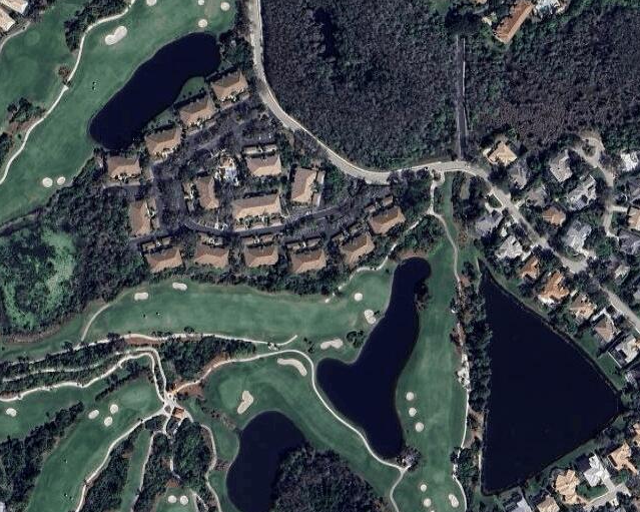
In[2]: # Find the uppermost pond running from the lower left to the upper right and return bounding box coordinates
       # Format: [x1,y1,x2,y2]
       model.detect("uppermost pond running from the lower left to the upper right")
[90,32,221,149]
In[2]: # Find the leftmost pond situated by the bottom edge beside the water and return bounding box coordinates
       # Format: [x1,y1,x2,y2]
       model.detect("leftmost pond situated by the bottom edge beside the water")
[227,411,307,512]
